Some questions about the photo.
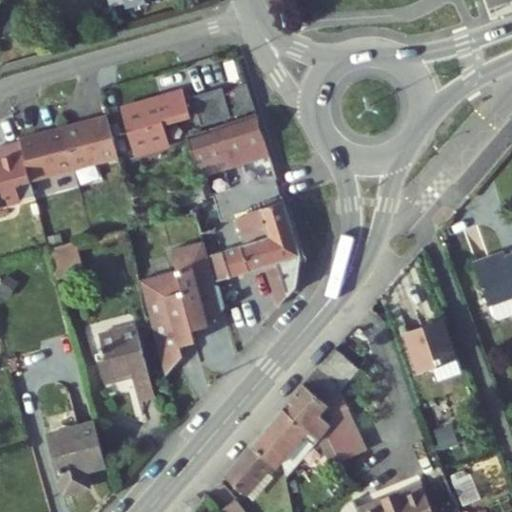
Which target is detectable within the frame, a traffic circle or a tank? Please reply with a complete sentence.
Of the two, only a traffic circle appears.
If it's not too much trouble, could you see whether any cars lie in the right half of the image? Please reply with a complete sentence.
Yes, a car appears in the right half of the image.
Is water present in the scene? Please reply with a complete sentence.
No, there's no water in this view.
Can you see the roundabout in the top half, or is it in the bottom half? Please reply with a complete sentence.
The roundabout sits in the top half of the picture.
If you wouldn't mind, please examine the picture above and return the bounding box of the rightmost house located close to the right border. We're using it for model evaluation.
[472,248,512,321]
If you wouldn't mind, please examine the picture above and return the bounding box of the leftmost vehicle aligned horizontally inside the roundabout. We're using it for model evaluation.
[348,52,372,64]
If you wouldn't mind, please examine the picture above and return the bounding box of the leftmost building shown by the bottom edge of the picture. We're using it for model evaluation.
[48,422,106,496]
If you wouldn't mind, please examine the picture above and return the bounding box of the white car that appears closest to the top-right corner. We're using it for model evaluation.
[482,28,506,41]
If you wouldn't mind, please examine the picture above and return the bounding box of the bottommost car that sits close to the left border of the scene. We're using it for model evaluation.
[22,392,34,414]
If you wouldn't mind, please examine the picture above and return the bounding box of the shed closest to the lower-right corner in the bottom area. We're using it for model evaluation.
[451,473,480,507]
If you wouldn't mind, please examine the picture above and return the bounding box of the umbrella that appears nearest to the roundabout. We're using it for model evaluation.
[211,178,228,194]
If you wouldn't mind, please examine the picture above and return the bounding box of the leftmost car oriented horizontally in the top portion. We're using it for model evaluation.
[159,74,183,86]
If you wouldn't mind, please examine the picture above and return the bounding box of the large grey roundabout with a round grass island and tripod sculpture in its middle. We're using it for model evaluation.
[304,42,436,173]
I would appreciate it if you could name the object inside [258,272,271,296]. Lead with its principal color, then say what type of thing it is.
red vehicle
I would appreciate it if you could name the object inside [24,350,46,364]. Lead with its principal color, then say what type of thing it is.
white vehicle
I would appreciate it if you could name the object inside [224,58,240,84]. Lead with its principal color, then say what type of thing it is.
white vehicle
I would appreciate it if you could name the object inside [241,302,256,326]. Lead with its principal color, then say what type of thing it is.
white car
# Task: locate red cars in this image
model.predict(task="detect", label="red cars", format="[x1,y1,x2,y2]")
[258,272,271,296]
[61,338,71,354]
